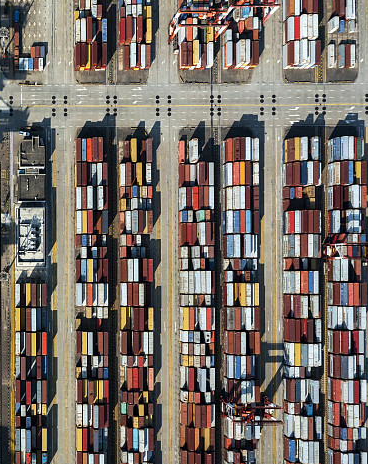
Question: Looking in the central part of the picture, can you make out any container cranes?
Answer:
No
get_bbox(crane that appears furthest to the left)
[167,9,227,45]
